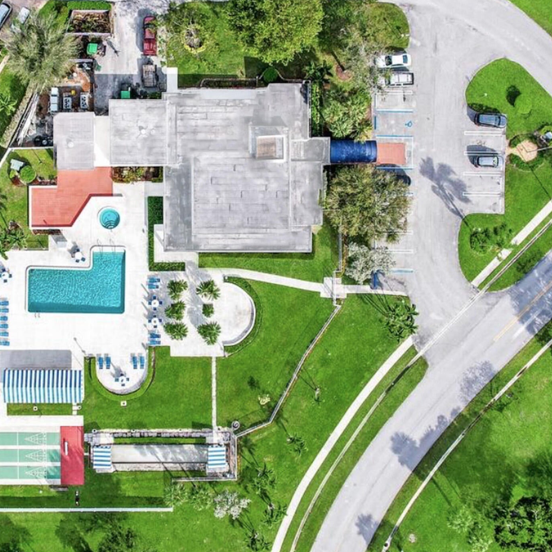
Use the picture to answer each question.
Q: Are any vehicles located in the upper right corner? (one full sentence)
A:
Yes, a vehicle shows up in the upper right corner.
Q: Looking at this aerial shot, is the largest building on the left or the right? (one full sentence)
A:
The largest building is on the left side of the image.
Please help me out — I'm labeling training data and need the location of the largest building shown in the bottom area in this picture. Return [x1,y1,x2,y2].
[5,367,86,403]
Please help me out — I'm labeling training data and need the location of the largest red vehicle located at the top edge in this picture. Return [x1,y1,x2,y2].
[143,15,159,56]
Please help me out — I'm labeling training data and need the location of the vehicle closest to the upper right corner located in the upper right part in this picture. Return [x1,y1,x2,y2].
[472,113,507,129]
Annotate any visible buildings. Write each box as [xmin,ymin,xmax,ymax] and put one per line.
[5,367,86,403]
[54,68,330,253]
